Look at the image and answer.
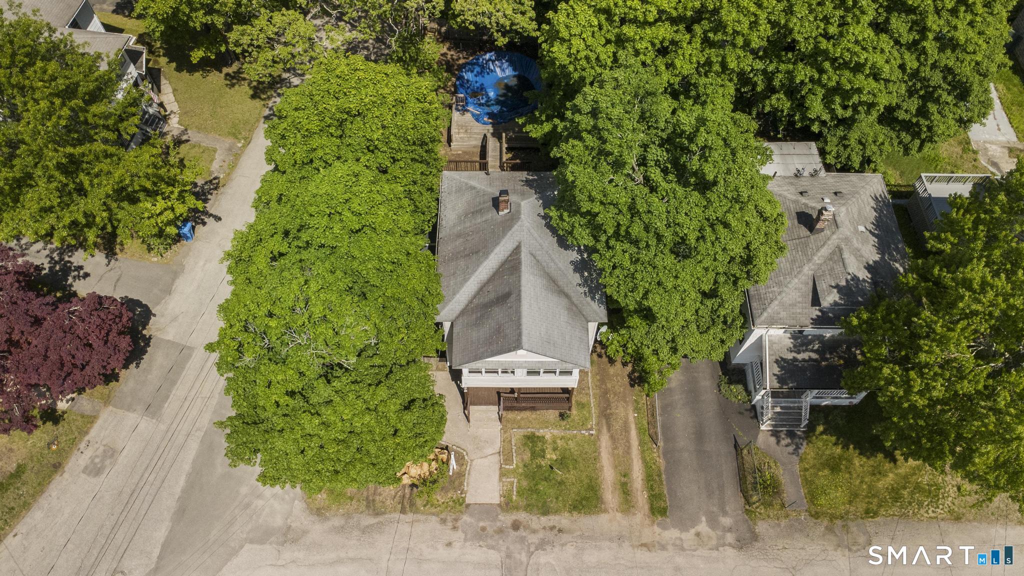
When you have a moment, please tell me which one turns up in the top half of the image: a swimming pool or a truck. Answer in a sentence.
Looking in the top half of the image, you will find a swimming pool.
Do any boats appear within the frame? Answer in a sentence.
No, there is no boat in the image.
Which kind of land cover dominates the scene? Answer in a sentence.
The largest share of the image is taken up by trees.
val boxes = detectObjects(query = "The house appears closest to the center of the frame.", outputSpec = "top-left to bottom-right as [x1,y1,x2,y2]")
[434,160,609,435]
